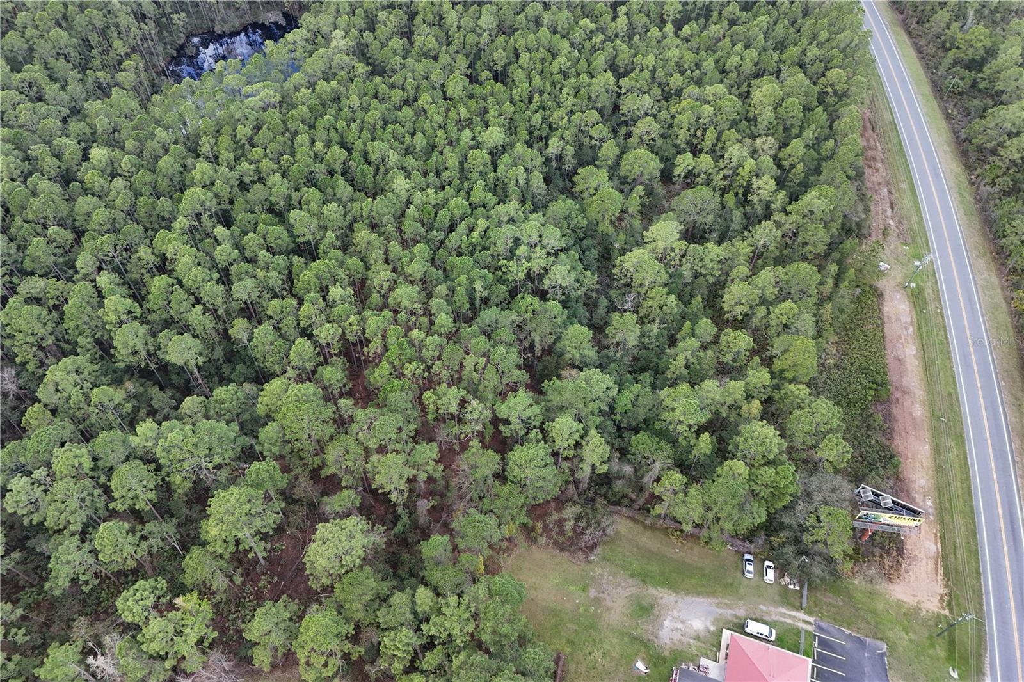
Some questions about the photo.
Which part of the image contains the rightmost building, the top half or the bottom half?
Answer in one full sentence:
Seen from above, the rightmost building lies in the bottom half of the view.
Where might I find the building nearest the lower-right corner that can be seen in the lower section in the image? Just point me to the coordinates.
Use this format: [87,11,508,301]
[723,632,810,682]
